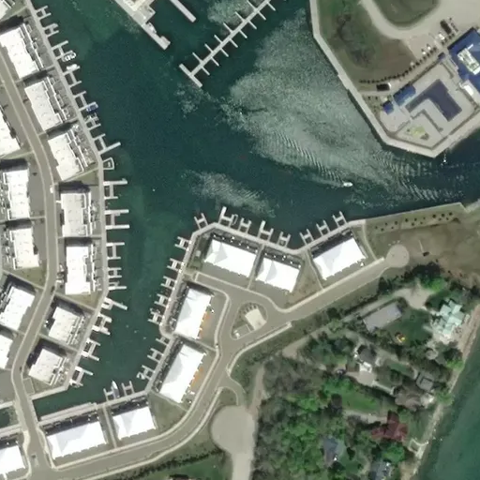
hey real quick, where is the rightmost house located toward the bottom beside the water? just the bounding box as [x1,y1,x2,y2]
[429,300,471,347]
